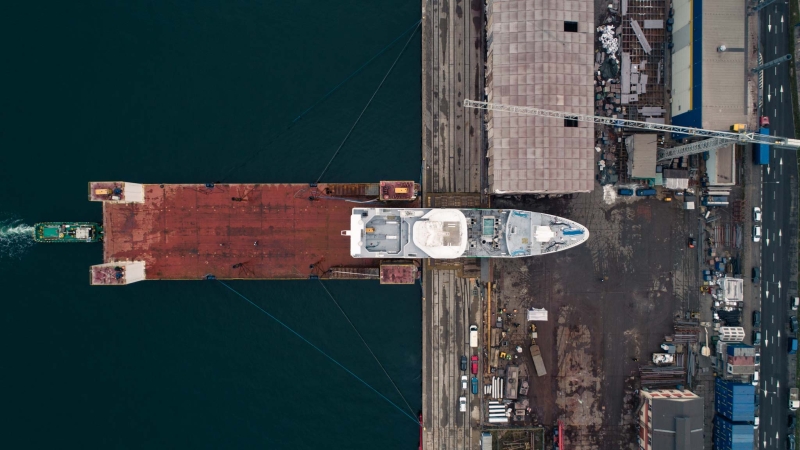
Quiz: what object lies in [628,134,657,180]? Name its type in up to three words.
shed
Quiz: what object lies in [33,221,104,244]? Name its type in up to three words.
boat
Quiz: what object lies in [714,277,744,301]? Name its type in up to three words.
building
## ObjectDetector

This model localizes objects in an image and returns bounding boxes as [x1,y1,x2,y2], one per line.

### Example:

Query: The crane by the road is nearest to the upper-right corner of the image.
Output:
[462,97,800,166]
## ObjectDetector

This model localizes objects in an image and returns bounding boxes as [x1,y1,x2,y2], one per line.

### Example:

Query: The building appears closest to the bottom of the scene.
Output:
[640,391,702,450]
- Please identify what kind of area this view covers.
port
